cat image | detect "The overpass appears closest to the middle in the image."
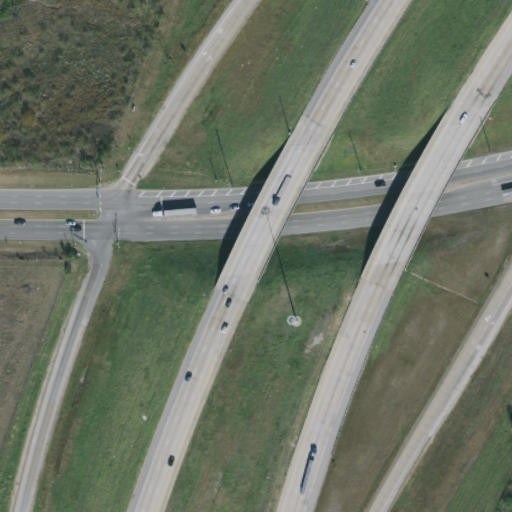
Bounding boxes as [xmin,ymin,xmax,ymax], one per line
[214,113,336,304]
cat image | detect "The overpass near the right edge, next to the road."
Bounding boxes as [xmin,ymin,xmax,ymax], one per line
[358,98,488,298]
